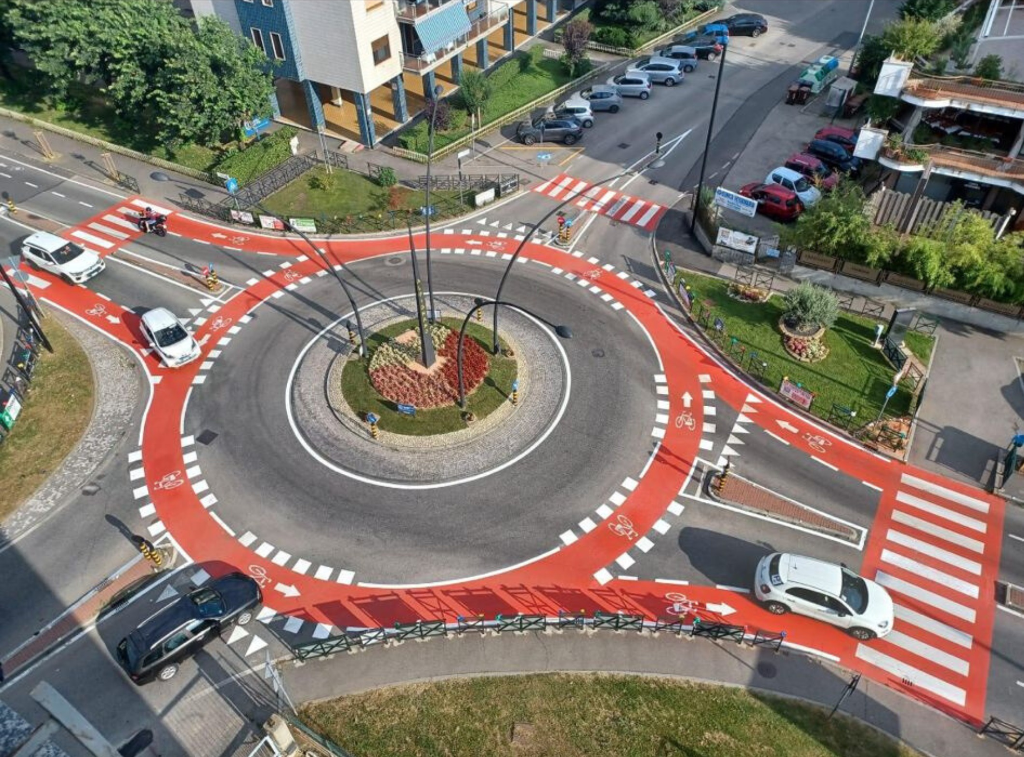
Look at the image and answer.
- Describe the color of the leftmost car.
white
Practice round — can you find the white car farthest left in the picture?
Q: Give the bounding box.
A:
[24,226,103,285]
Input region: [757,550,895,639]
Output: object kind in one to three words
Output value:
car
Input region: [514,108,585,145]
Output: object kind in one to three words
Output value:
car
